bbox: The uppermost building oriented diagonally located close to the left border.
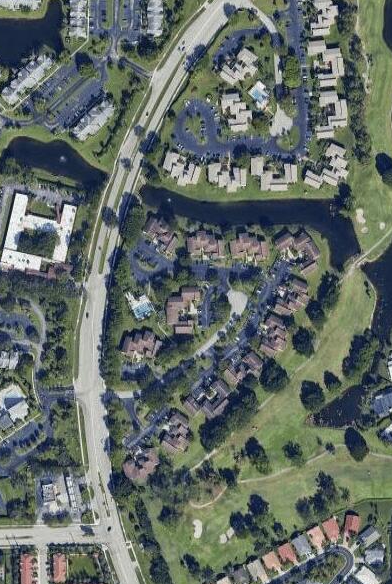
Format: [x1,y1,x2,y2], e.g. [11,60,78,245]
[0,56,57,103]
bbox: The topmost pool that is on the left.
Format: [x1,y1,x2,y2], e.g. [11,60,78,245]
[126,294,154,320]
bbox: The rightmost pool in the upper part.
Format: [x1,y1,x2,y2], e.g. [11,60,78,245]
[249,86,270,106]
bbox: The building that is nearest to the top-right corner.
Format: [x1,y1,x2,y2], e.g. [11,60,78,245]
[311,0,339,36]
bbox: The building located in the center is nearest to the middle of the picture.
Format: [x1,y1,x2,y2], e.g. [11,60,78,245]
[166,284,201,335]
